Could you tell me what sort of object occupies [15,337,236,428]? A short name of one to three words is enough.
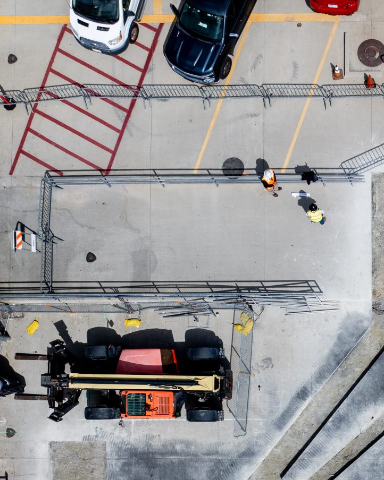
work vehicle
